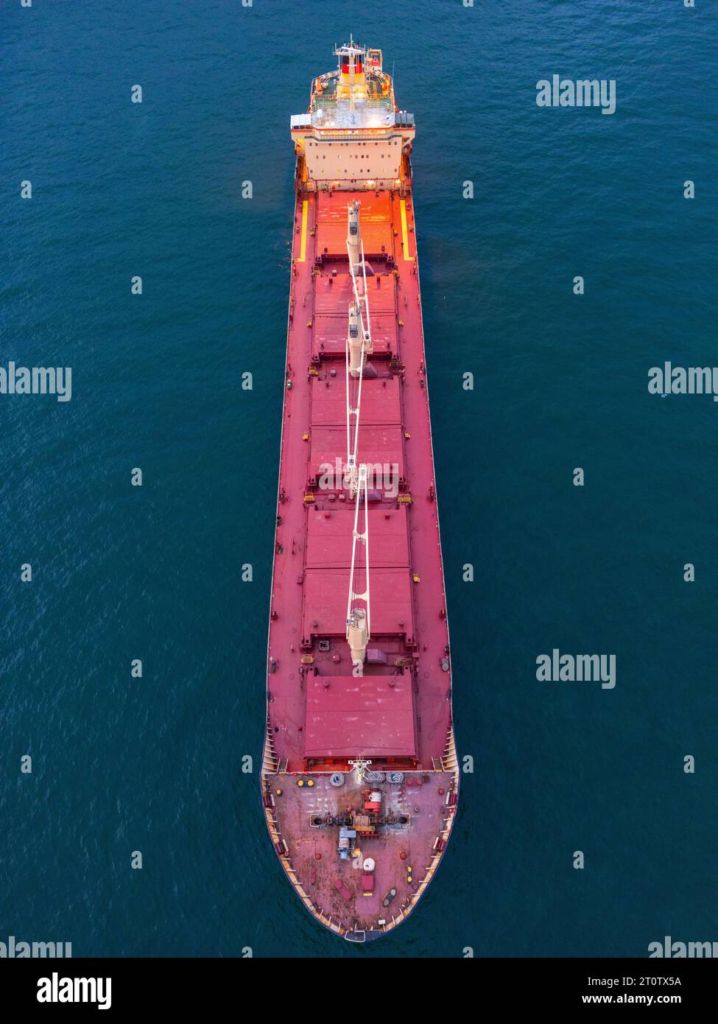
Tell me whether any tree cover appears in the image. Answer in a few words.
No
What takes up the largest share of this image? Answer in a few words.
water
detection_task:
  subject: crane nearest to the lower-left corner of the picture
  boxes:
[346,465,371,671]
